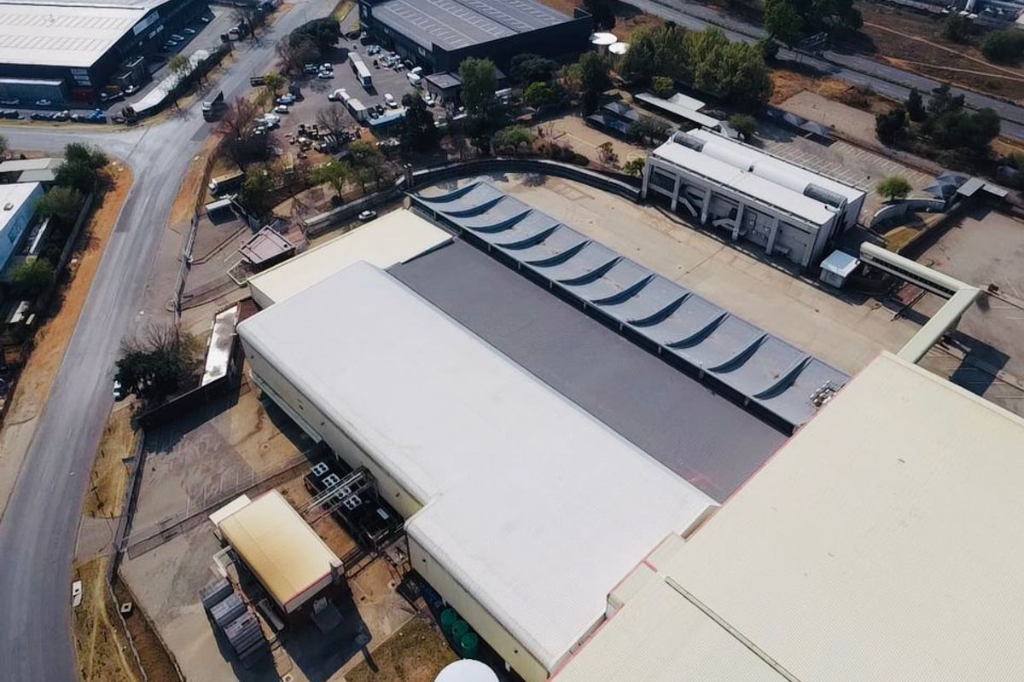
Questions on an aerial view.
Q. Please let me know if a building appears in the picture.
Yes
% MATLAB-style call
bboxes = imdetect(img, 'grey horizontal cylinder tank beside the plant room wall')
[249,599,279,637]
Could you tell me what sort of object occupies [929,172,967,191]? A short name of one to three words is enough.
tent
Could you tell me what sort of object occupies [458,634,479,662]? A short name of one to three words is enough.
water tank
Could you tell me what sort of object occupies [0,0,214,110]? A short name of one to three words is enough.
building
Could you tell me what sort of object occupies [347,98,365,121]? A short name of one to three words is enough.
vehicle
